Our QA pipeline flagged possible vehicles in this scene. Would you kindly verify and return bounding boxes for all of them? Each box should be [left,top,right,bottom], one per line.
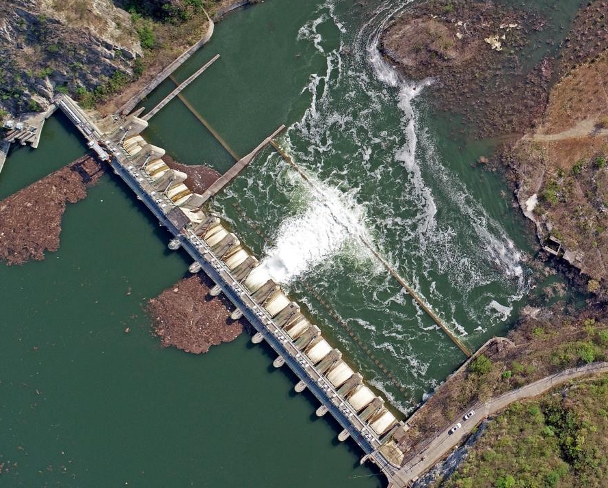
[463,411,475,420]
[451,422,463,433]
